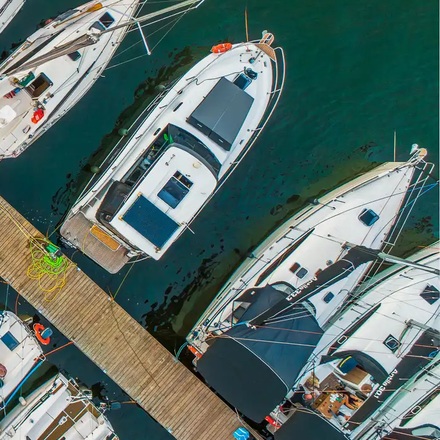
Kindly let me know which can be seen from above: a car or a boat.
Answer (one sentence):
The image shows a boat.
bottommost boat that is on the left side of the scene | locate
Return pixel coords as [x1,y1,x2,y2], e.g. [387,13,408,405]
[0,370,121,440]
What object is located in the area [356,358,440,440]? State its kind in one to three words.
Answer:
boat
